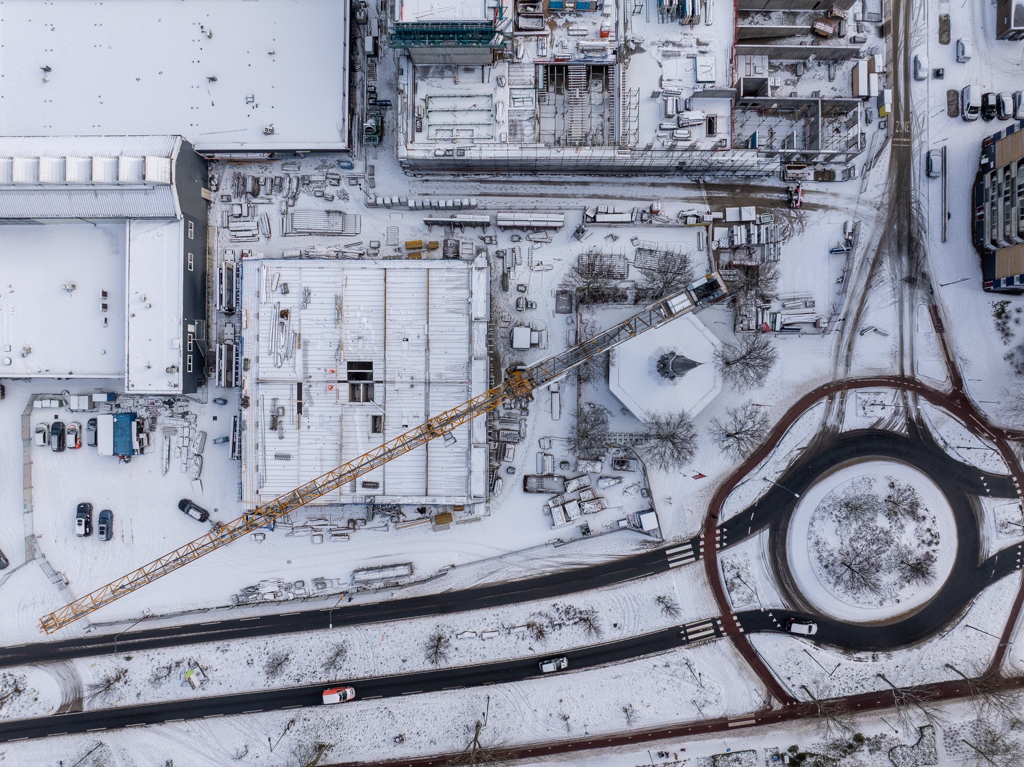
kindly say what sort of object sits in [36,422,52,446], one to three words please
car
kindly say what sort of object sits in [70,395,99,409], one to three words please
shed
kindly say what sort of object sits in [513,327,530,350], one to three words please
shed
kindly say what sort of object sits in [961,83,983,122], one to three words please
vehicle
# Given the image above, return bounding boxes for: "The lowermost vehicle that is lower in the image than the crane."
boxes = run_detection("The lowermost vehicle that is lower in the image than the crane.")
[320,684,356,706]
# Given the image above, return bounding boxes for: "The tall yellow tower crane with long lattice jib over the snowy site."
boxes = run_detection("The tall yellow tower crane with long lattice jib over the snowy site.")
[33,266,742,633]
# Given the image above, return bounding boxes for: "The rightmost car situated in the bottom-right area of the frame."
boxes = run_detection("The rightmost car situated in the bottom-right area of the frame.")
[783,617,816,635]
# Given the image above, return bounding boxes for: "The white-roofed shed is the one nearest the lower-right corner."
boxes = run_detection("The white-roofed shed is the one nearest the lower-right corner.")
[637,508,659,532]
